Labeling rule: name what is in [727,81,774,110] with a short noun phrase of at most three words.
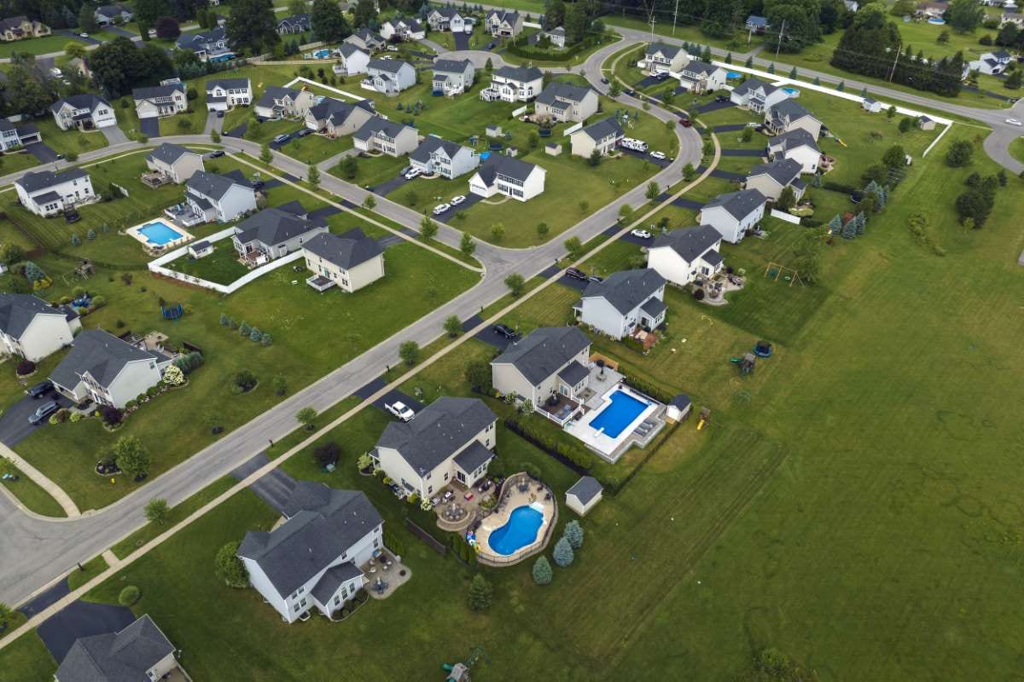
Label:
house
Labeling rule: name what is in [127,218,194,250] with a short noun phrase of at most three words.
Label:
swimming pool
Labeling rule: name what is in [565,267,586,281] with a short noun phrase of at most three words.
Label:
car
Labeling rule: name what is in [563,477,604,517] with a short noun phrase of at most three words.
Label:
shed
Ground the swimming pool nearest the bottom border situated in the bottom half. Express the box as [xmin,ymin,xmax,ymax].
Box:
[475,473,557,562]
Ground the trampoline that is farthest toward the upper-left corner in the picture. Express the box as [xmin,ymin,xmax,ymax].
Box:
[159,299,184,320]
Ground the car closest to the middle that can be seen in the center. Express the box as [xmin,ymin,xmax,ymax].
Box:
[494,322,518,339]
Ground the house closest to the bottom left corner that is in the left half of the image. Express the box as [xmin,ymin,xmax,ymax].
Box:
[44,614,183,682]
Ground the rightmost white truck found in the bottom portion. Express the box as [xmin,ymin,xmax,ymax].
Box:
[384,399,416,420]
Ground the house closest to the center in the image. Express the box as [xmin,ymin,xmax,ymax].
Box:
[490,320,593,407]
